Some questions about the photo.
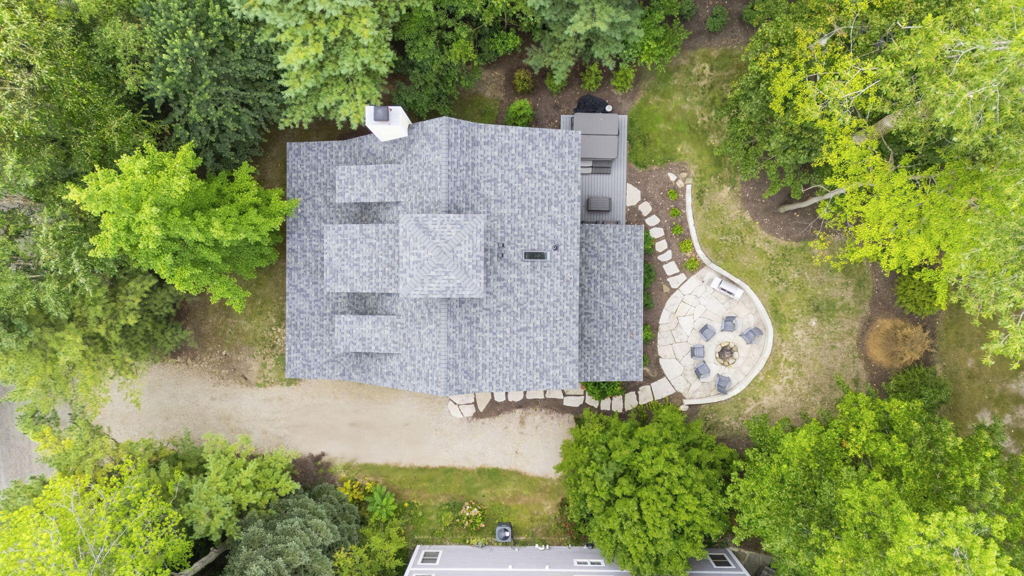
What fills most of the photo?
trees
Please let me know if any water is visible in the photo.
No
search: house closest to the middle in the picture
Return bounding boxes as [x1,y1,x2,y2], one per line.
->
[286,104,644,396]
